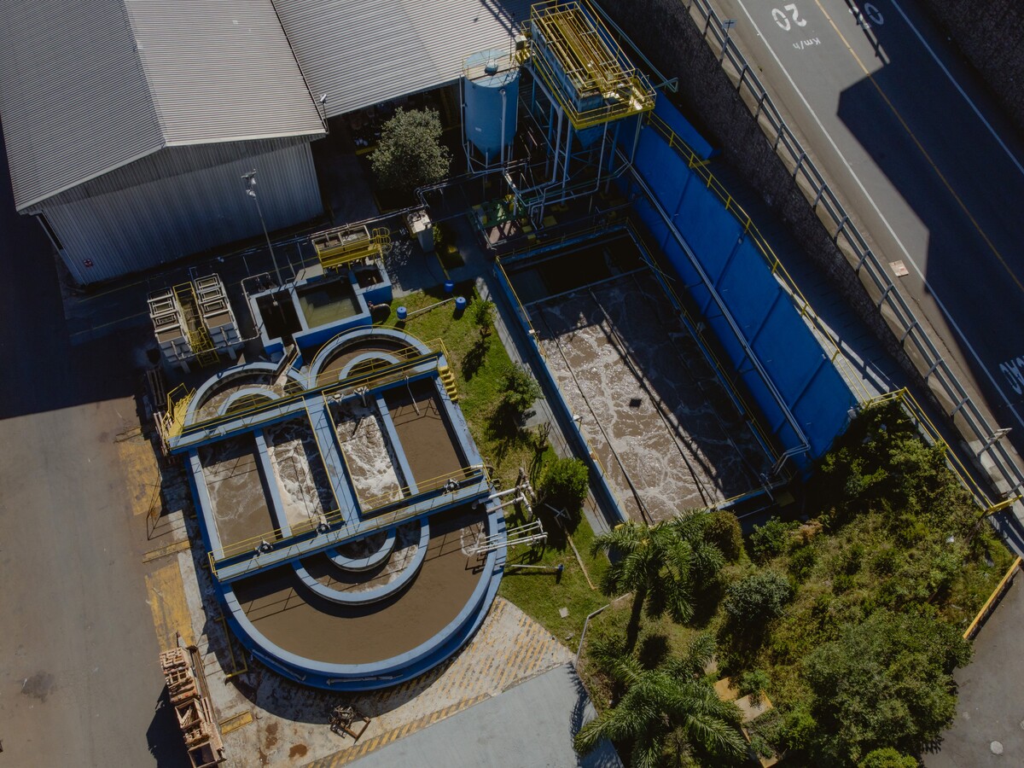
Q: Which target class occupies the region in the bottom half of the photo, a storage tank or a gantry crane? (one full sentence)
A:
Looking in the bottom half of the photo, you will find a storage tank.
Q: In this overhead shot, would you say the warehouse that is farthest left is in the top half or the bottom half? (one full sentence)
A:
It is in the top half that the warehouse that is farthest left appears.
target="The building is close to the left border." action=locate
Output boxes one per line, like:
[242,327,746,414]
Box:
[0,0,334,286]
